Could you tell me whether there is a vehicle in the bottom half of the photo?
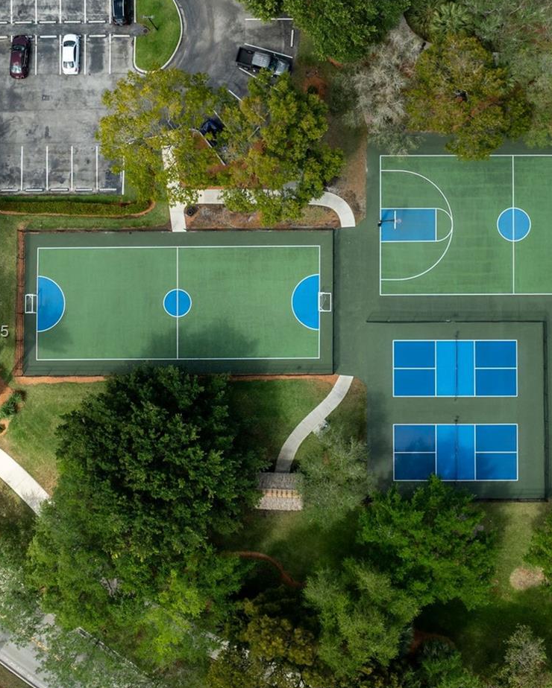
No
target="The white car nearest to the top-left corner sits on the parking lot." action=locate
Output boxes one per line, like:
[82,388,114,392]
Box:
[59,34,82,76]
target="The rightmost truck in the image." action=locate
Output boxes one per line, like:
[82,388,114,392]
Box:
[234,44,290,78]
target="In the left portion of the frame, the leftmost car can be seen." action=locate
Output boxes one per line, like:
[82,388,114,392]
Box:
[9,36,31,79]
